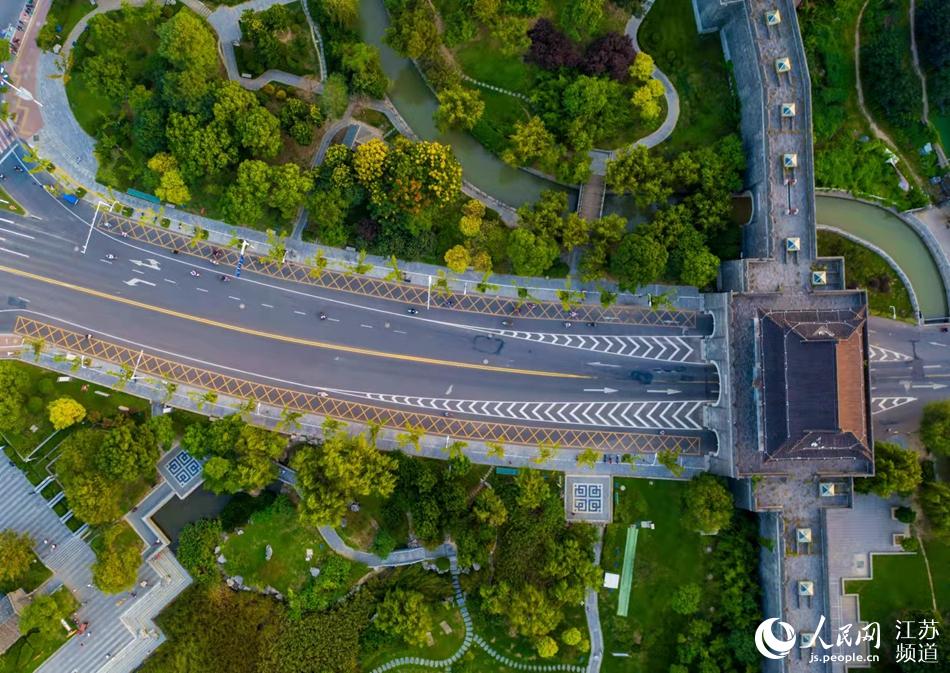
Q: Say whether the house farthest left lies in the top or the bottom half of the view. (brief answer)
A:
bottom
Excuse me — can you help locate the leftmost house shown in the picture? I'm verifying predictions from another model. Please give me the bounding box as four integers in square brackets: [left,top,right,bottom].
[0,580,44,655]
